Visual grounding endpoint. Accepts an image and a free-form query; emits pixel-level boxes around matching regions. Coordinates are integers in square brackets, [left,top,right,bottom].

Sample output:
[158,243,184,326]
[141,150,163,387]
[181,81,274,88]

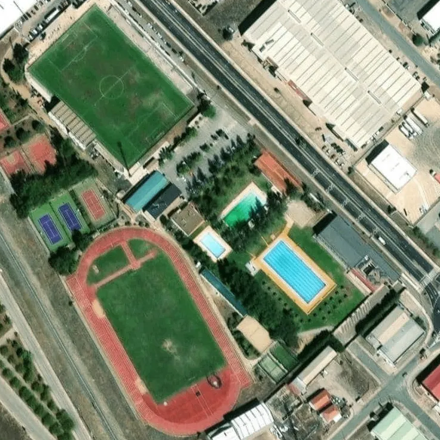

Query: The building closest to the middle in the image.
[170,202,205,236]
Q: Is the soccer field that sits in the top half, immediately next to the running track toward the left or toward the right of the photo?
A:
left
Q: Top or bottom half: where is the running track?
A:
bottom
